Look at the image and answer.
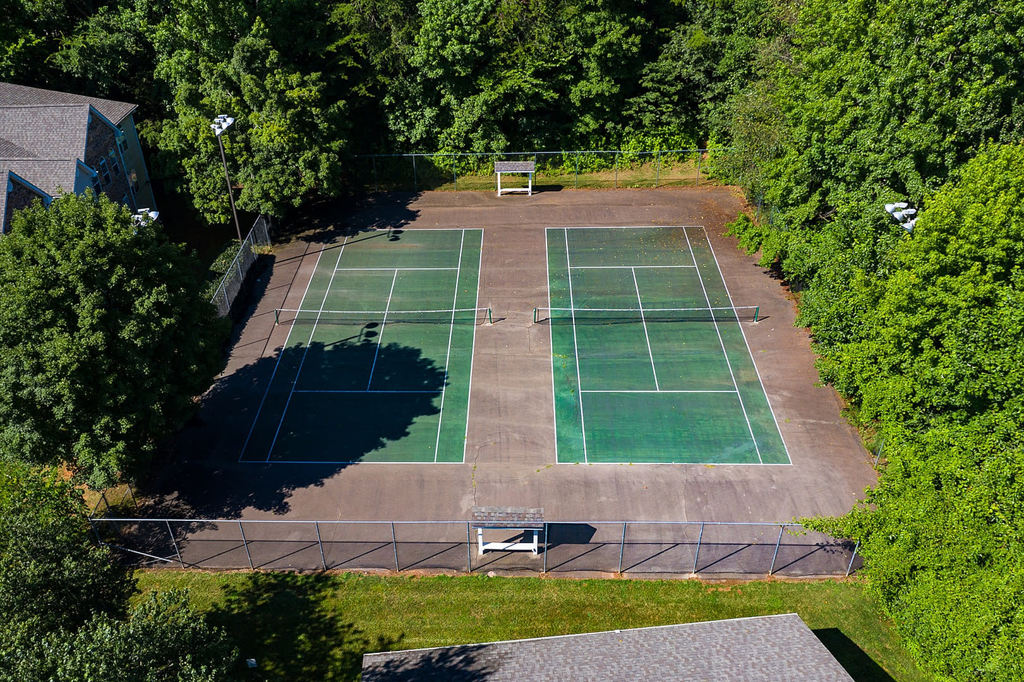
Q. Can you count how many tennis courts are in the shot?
2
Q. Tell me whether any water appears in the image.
No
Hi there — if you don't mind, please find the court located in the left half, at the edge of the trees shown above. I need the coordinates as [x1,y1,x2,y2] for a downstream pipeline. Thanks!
[240,229,483,463]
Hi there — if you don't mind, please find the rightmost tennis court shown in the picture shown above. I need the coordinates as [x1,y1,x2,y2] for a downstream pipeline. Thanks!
[545,226,791,464]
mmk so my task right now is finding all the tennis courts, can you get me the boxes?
[240,229,483,463]
[545,226,791,464]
